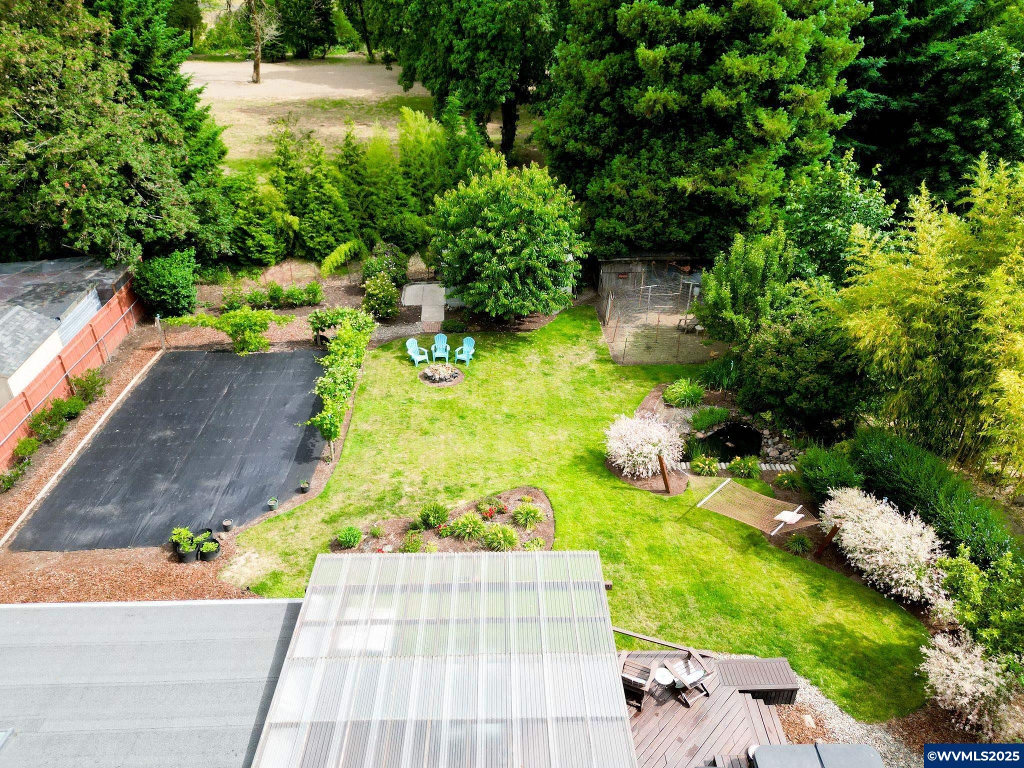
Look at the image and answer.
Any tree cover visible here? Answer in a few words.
Yes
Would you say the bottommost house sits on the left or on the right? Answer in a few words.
left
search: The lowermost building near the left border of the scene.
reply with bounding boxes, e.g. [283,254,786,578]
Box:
[0,600,301,768]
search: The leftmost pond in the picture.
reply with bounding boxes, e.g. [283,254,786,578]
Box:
[675,409,808,467]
